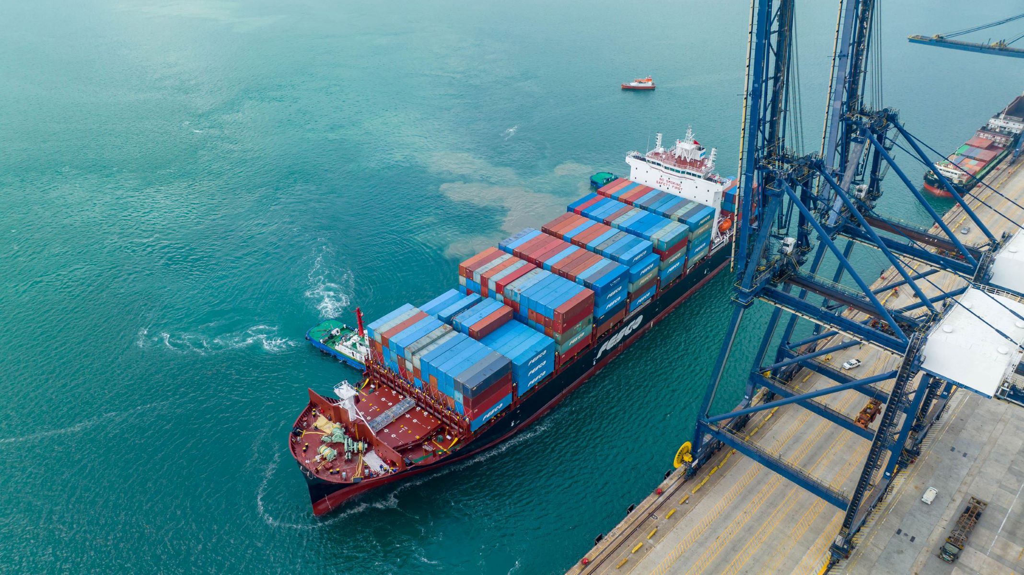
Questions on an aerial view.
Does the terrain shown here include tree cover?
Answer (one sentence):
No, the picture contains no tree cover.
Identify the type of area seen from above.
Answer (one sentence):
What you see here is a port.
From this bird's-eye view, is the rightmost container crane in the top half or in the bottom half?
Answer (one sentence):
The rightmost container crane is in the top half of the image.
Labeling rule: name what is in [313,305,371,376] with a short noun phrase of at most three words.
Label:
boat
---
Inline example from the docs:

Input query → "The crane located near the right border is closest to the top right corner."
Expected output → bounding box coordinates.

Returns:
[908,8,1024,60]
